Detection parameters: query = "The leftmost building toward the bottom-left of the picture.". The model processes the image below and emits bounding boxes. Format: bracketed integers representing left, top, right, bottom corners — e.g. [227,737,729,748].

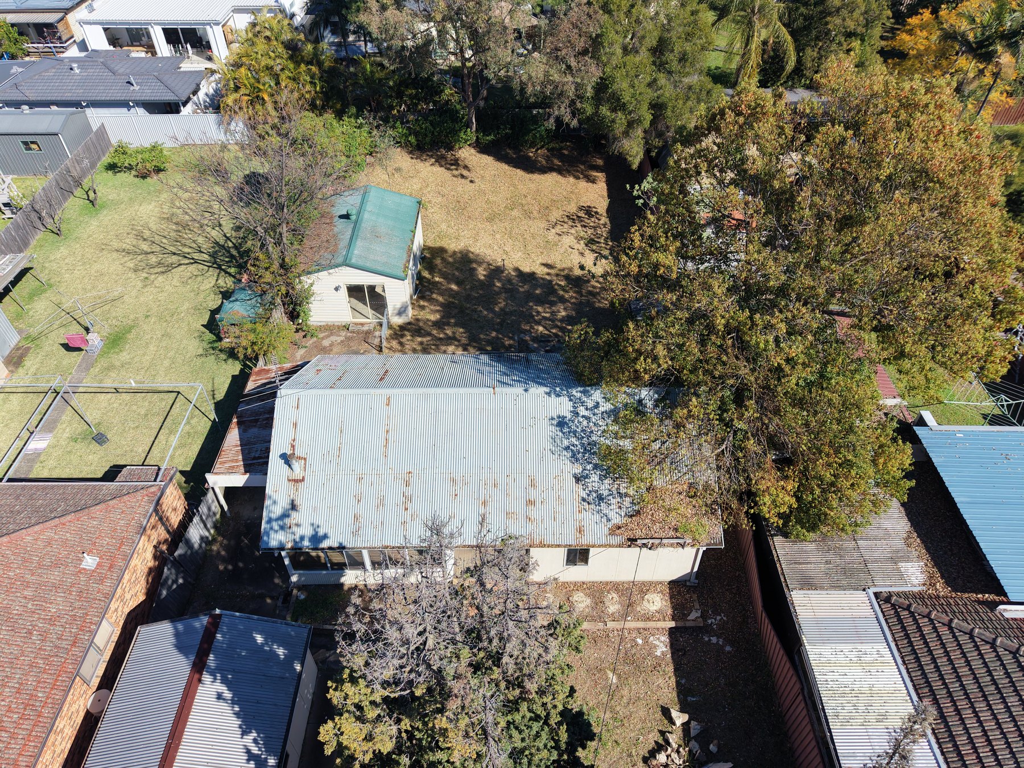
[0,469,179,768]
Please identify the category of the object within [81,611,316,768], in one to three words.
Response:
building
